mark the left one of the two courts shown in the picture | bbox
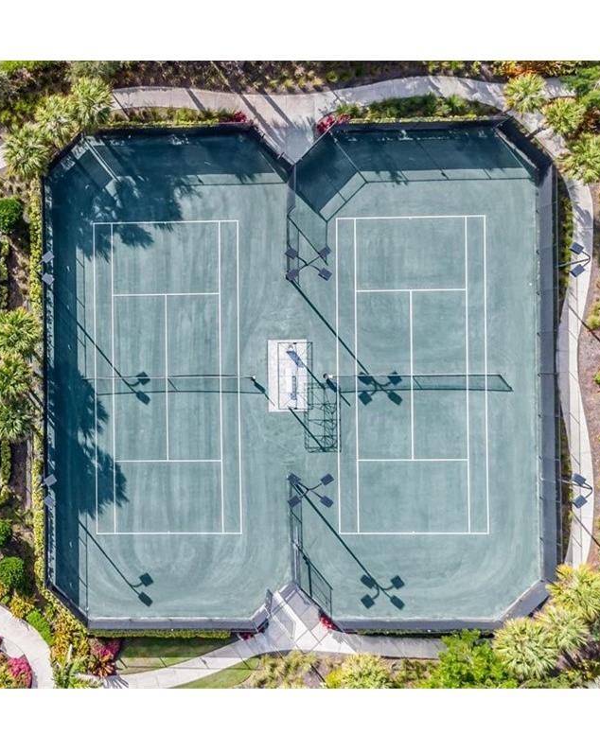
[50,136,293,619]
